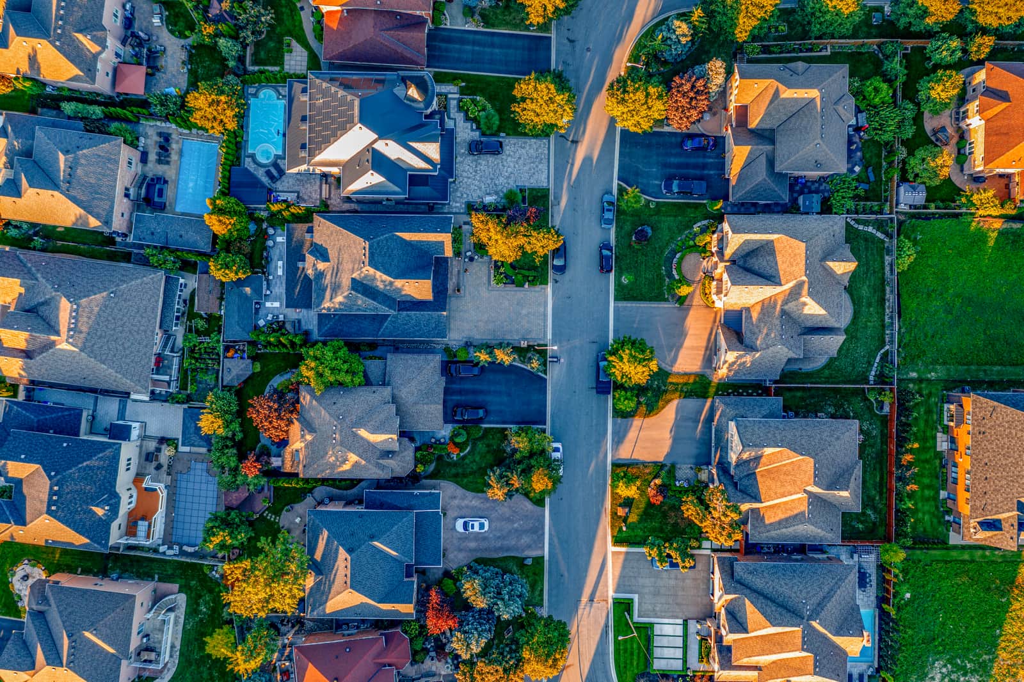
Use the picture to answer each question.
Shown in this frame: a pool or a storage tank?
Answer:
pool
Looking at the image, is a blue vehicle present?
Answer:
Yes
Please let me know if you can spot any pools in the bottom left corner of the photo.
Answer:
Yes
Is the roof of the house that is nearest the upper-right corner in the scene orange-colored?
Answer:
Yes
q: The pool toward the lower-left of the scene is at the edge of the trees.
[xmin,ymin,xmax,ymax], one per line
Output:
[171,459,219,548]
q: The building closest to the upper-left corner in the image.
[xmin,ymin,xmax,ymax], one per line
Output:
[0,0,126,96]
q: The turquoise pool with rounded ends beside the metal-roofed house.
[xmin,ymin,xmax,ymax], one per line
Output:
[247,87,286,165]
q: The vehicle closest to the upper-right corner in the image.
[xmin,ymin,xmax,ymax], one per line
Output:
[681,135,715,151]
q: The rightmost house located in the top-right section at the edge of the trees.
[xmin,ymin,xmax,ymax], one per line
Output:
[951,61,1024,210]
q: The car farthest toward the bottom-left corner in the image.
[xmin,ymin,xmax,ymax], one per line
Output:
[456,517,489,533]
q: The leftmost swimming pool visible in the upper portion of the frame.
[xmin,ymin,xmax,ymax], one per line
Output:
[173,138,220,214]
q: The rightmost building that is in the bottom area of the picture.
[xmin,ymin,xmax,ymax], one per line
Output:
[942,393,1024,552]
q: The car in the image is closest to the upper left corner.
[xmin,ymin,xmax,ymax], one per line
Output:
[468,138,502,155]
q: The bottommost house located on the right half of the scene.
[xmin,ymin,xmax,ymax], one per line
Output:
[709,551,873,682]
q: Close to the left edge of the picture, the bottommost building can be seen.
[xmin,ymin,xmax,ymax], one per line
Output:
[0,575,179,682]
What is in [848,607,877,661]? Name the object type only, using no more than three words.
swimming pool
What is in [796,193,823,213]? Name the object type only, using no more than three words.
shed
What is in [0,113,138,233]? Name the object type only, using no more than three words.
house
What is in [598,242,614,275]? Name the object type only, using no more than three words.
car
